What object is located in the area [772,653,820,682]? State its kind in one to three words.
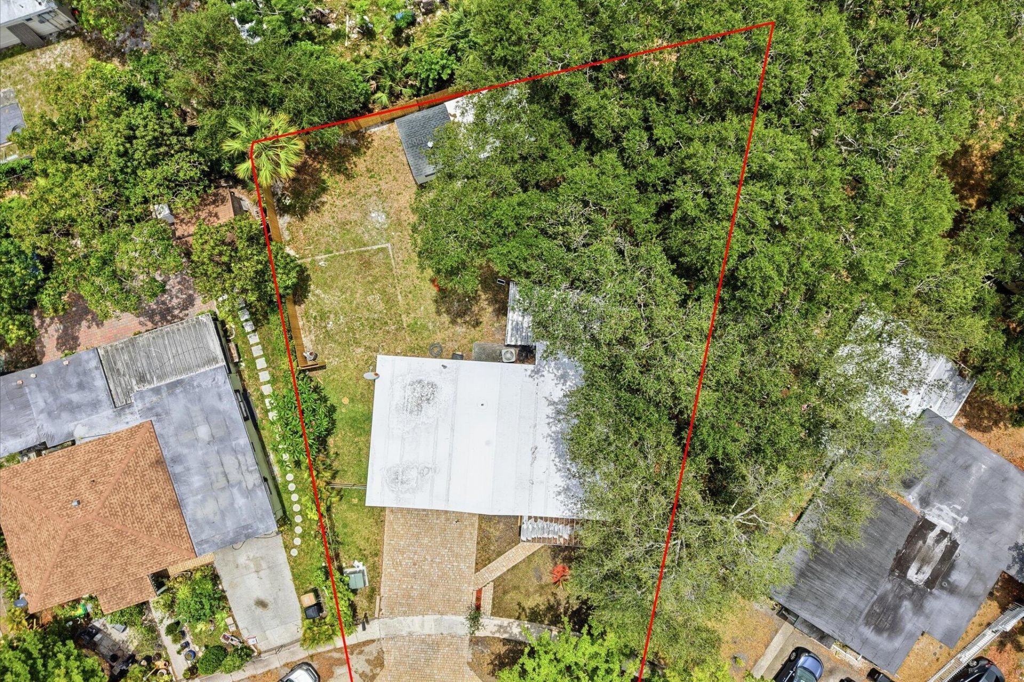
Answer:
car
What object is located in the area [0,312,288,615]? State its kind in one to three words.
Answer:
building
